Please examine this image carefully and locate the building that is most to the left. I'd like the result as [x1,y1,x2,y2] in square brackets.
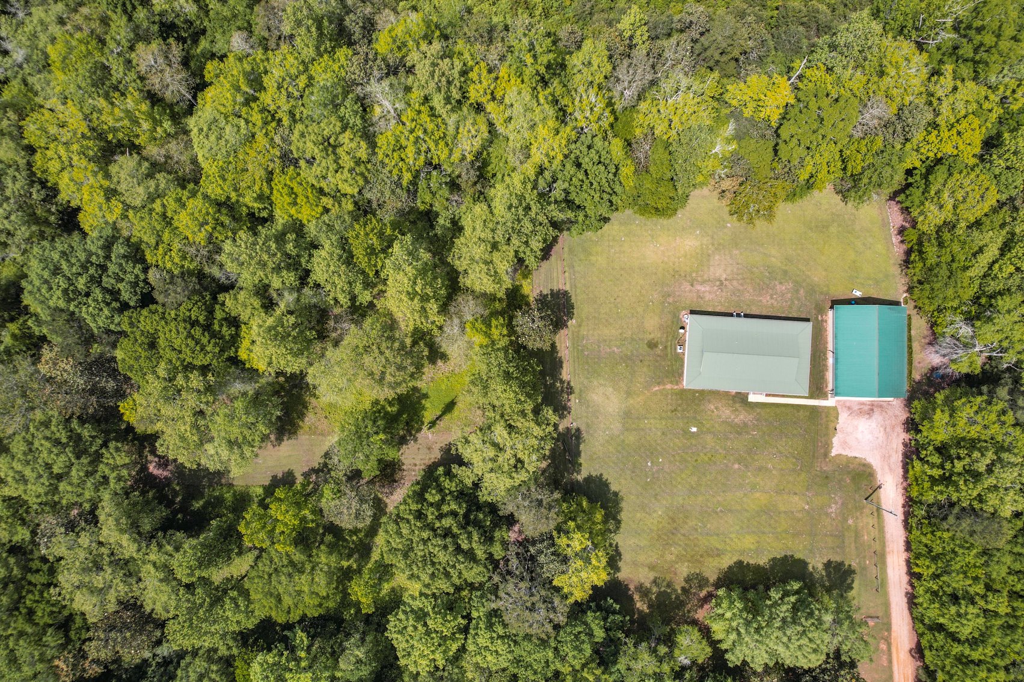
[683,314,813,396]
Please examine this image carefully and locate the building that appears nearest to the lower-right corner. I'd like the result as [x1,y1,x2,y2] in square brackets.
[825,305,907,398]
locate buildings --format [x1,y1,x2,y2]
[683,314,813,396]
[825,305,907,398]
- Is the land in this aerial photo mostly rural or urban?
rural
